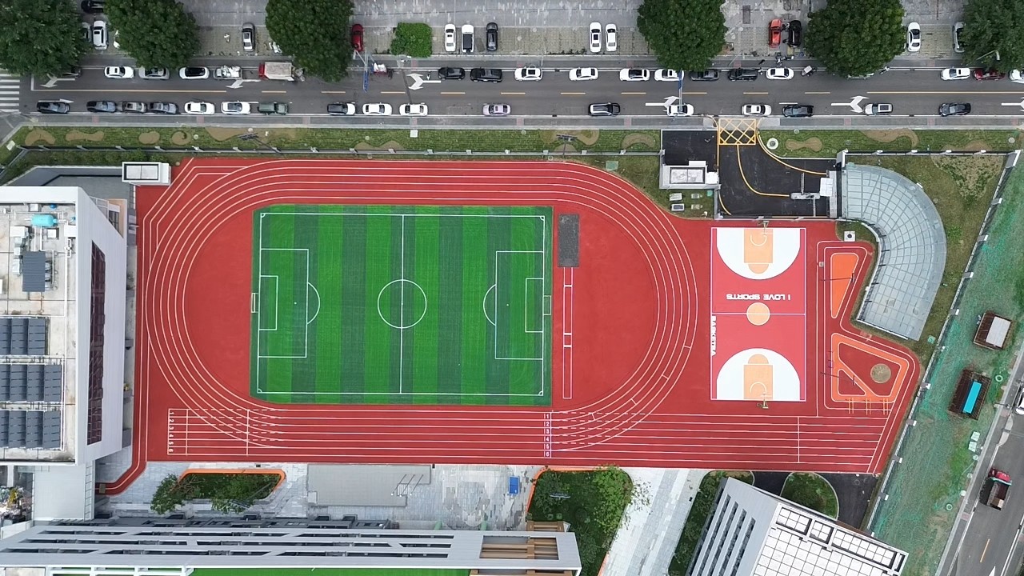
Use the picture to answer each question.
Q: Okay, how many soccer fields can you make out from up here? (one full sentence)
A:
The picture shows 1 soccer field.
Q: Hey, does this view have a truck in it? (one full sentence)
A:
Yes, a truck appears in the view.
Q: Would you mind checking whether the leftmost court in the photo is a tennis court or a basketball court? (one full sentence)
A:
It looks like the leftmost court is a basketball court.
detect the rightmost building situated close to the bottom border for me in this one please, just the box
[683,478,908,576]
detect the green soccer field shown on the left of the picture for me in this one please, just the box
[251,205,553,406]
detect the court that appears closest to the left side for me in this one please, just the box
[711,228,807,401]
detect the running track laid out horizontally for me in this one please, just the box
[95,158,921,495]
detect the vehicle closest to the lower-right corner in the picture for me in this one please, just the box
[981,465,1018,511]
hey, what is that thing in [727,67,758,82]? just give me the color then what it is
black car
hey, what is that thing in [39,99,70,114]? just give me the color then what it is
black car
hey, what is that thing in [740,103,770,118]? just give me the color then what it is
white car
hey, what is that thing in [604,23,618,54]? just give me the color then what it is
white car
